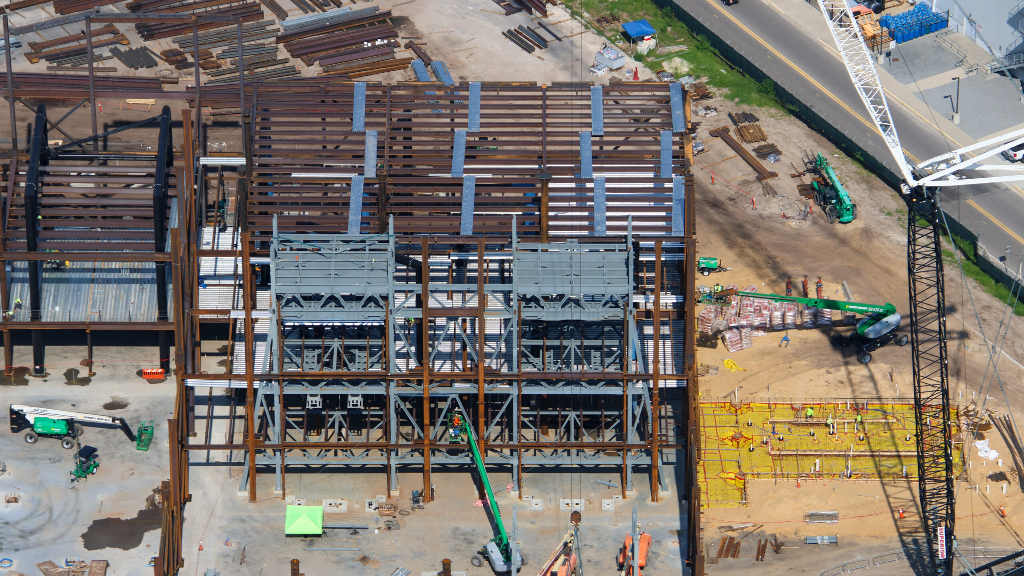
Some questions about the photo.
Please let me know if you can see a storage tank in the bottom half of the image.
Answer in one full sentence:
No, no storage tank is visible in the bottom half of the image.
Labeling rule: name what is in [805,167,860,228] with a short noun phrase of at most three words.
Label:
work vehicle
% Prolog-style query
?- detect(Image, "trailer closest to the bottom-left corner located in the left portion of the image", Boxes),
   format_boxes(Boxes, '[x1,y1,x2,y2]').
[66,434,98,481]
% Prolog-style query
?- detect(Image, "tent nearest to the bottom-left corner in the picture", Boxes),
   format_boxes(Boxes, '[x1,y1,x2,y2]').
[285,505,324,555]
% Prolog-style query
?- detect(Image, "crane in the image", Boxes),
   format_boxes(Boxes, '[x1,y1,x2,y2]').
[808,0,1024,576]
